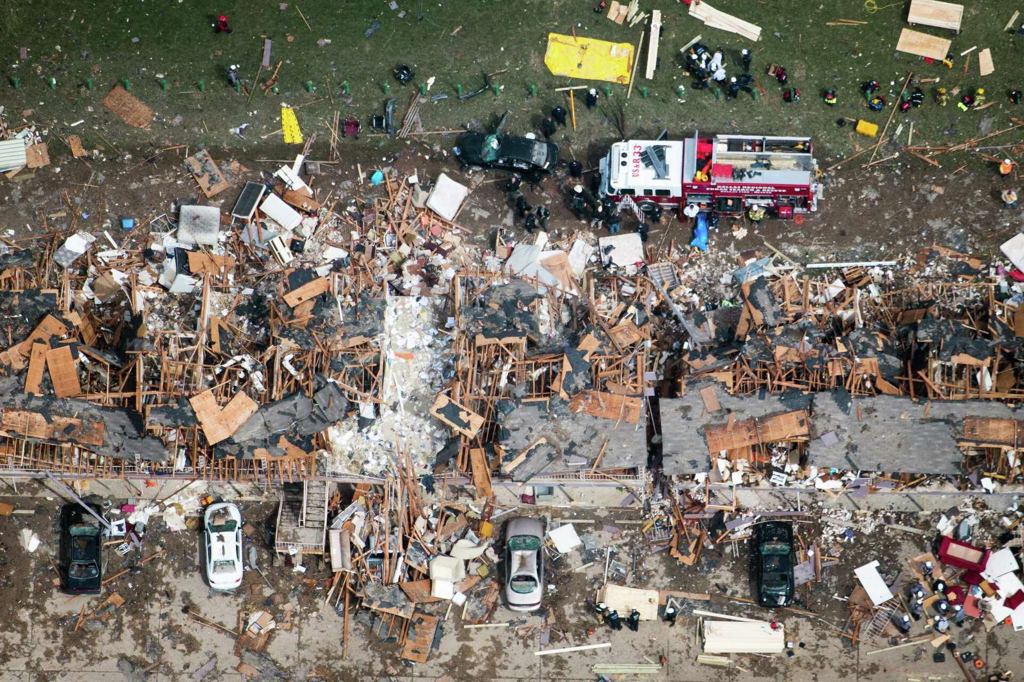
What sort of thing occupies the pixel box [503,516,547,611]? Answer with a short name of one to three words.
car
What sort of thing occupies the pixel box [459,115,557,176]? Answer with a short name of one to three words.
car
